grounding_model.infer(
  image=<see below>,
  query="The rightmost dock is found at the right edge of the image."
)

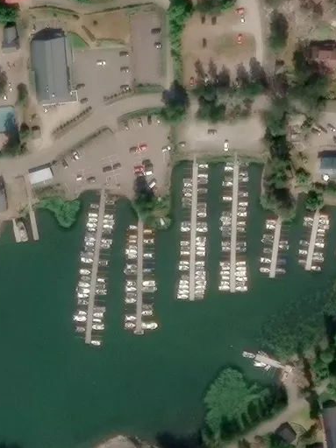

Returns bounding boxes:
[299,208,329,270]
